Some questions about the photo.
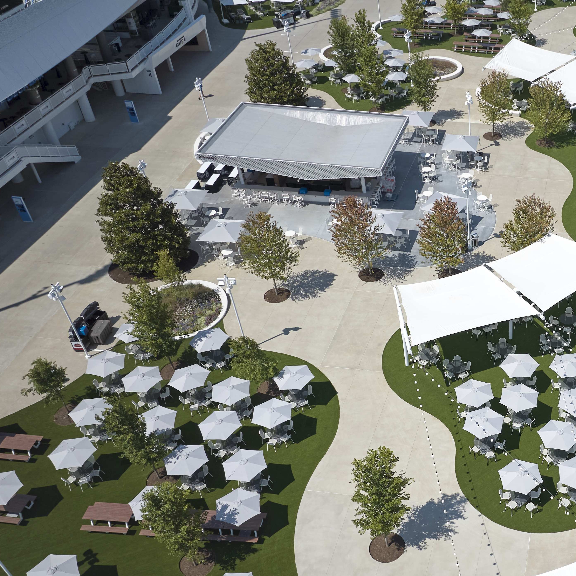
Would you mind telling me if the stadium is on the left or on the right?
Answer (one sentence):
The stadium appears in the left half of the scene.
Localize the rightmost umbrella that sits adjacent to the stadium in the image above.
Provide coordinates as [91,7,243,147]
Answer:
[220,0,247,22]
